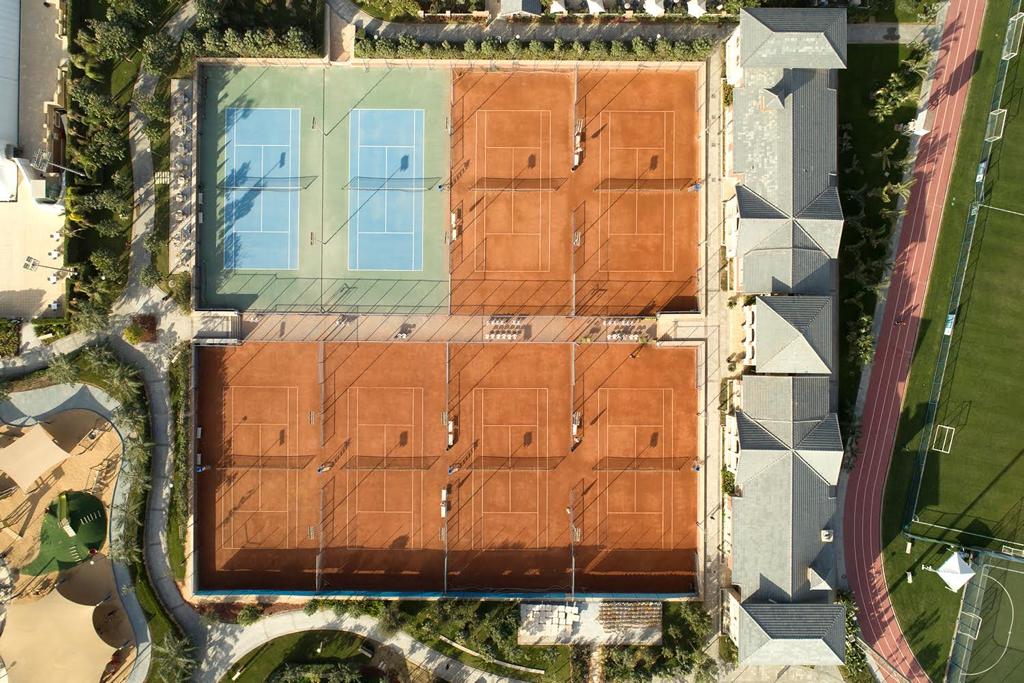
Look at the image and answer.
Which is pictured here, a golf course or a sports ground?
sports ground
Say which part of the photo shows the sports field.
right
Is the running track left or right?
right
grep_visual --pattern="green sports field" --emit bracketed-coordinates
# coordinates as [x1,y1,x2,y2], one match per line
[899,0,1024,566]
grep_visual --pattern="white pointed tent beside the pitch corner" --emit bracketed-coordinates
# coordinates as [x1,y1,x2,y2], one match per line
[926,550,978,598]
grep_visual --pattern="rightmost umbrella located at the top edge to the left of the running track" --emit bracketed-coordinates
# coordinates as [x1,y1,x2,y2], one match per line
[683,0,710,21]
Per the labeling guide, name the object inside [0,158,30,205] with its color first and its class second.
white tent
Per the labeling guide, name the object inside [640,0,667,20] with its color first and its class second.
white umbrella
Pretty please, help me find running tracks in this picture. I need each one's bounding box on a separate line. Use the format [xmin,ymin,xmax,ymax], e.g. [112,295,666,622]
[842,0,989,683]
